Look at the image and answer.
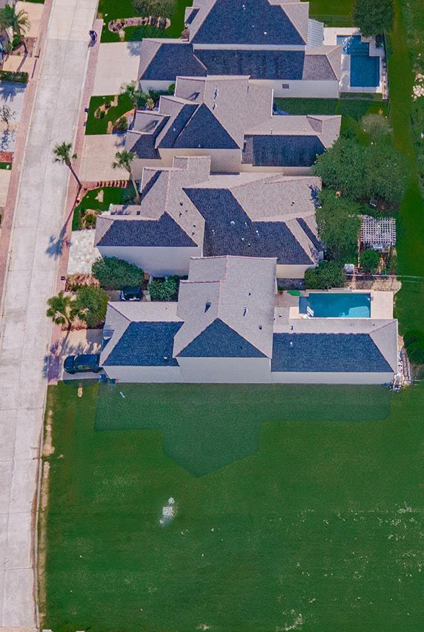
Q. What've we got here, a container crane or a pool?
pool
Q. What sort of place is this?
residential area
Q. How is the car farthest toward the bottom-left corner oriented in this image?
horizontally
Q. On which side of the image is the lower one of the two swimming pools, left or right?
right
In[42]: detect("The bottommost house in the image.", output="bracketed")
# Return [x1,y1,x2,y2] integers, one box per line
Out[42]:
[102,256,398,381]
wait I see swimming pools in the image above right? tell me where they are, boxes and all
[334,33,381,88]
[297,291,373,319]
